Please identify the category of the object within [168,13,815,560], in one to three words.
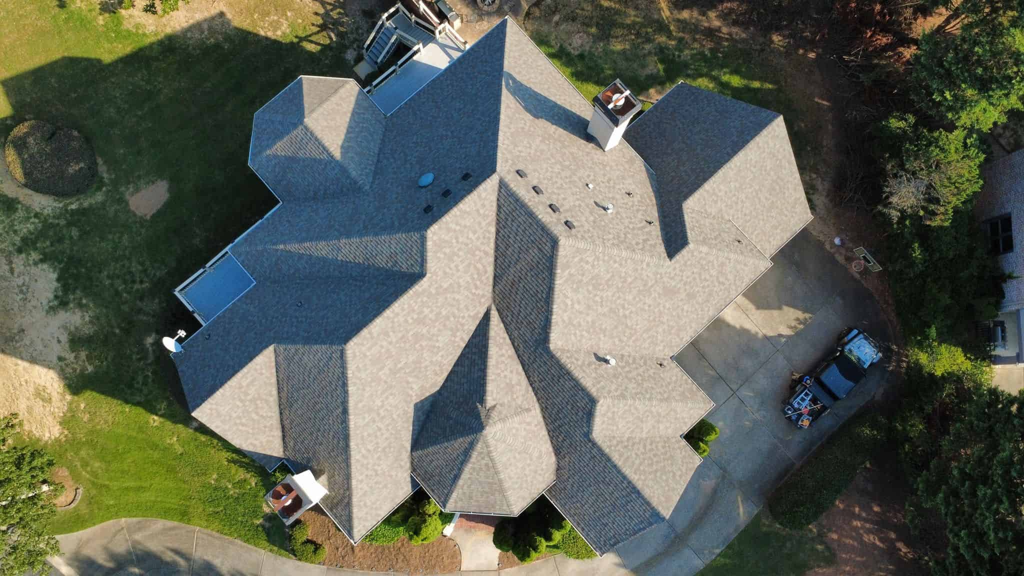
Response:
house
